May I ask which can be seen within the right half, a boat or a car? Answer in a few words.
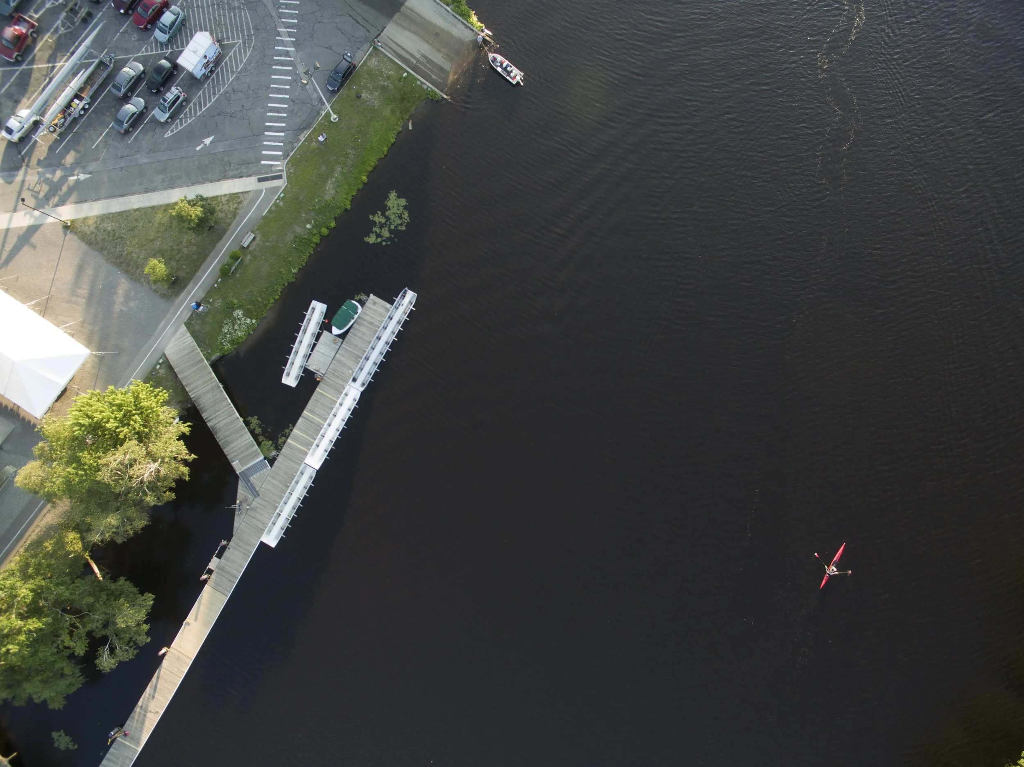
boat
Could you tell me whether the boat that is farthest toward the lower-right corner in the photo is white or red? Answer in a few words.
red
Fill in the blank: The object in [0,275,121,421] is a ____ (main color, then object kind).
white tent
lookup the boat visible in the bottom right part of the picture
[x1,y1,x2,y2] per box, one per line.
[815,543,850,589]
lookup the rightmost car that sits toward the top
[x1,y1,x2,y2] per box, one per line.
[326,47,357,93]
